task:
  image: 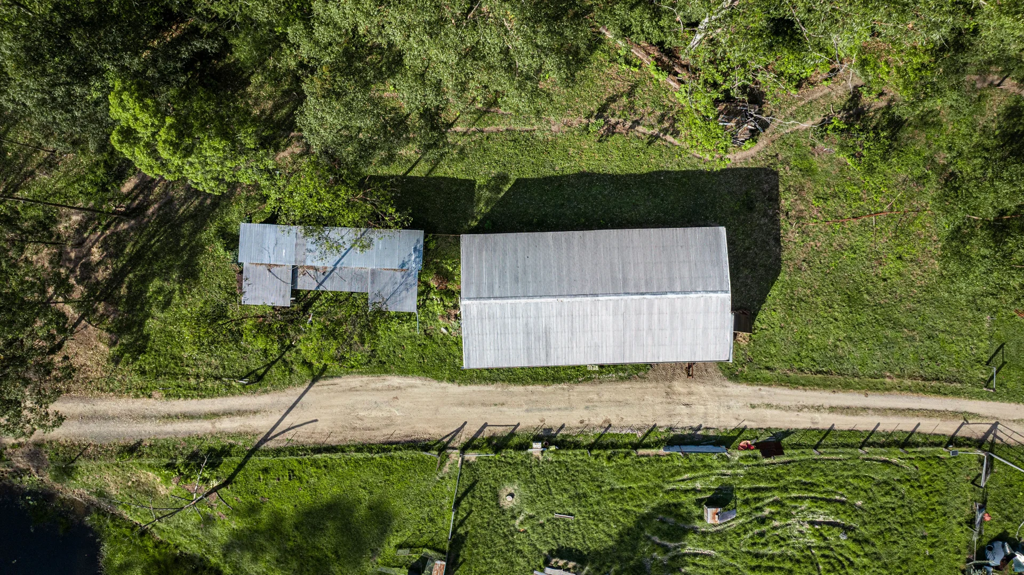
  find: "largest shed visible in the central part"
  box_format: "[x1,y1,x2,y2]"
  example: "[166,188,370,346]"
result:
[459,227,735,370]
